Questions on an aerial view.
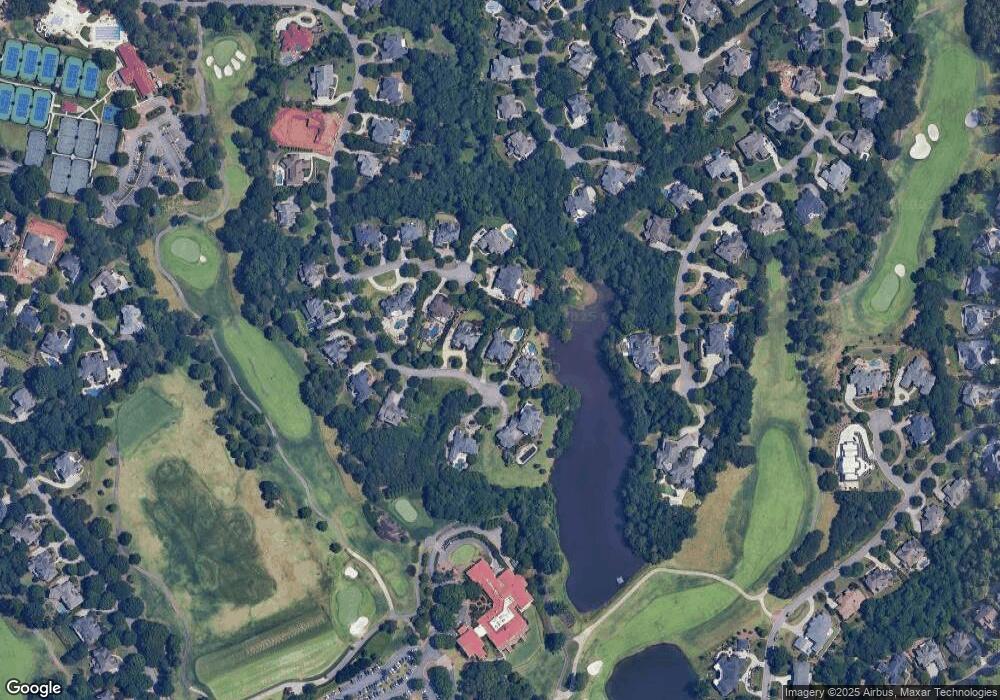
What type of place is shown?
residential area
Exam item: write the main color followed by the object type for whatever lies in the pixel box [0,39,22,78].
blue tennis court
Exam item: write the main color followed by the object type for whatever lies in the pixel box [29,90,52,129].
blue tennis court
